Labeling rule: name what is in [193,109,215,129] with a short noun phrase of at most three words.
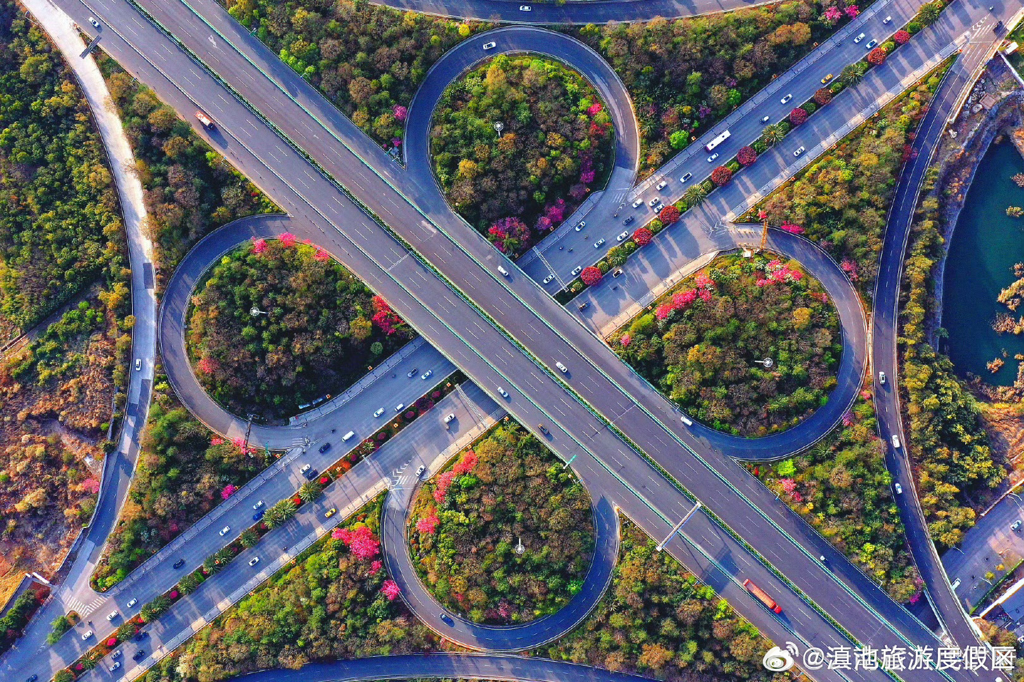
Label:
vehicle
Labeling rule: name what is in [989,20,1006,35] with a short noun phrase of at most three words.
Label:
vehicle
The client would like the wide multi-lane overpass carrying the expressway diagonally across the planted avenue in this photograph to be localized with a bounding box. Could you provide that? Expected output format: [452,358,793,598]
[372,206,648,469]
